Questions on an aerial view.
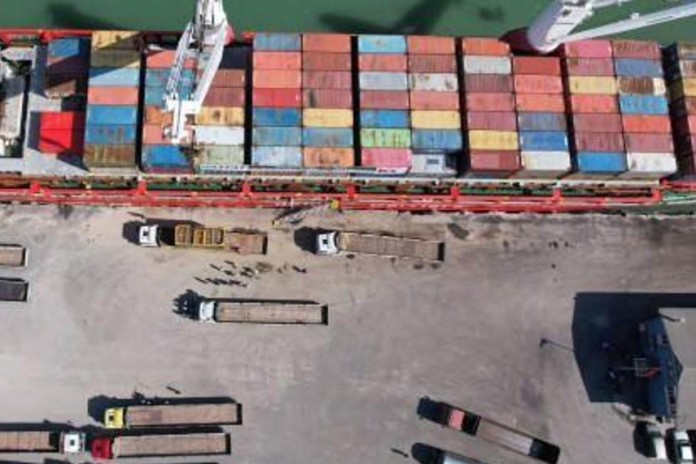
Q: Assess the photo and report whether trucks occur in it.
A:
Yes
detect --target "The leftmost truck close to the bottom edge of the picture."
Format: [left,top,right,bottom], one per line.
[0,427,91,454]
